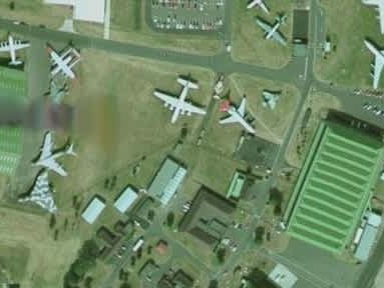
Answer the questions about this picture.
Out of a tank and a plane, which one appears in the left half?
plane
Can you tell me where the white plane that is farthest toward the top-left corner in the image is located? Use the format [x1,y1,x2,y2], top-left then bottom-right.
[0,37,31,66]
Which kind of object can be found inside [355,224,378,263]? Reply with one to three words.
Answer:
building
